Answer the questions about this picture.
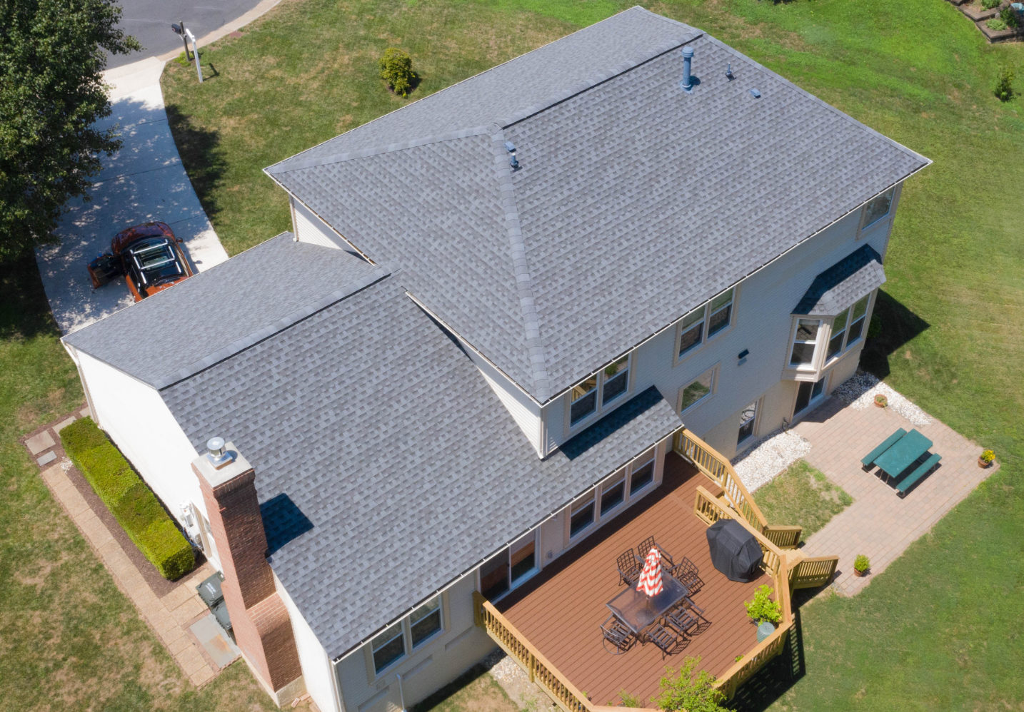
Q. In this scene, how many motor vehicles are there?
1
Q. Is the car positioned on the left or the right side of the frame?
left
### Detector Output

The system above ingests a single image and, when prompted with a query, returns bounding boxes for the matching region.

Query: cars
[81,224,195,304]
